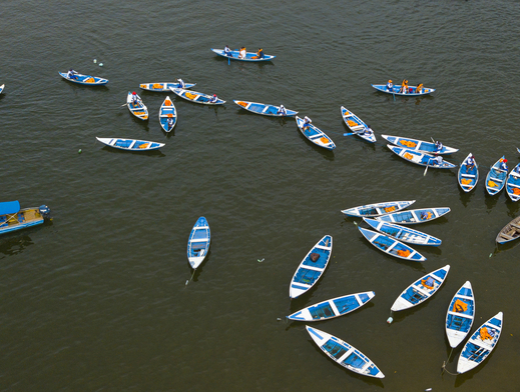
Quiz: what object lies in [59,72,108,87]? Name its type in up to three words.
boat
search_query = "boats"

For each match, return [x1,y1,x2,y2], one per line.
[211,49,276,62]
[387,144,456,170]
[495,215,520,245]
[458,312,502,376]
[59,72,108,87]
[341,106,376,144]
[459,155,479,194]
[486,156,509,198]
[0,198,56,233]
[357,227,426,264]
[127,92,150,122]
[373,208,451,225]
[170,88,226,107]
[158,96,179,135]
[391,265,449,314]
[286,292,374,323]
[363,217,442,248]
[371,84,435,96]
[296,117,335,151]
[381,135,459,155]
[306,325,384,380]
[97,137,166,151]
[507,163,520,204]
[291,235,333,300]
[188,216,211,272]
[445,280,475,350]
[341,200,416,218]
[235,100,299,118]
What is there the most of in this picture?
water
